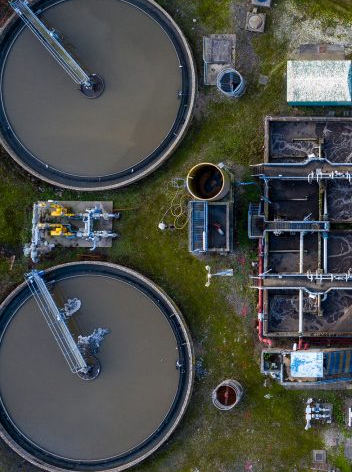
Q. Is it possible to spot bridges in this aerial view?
Yes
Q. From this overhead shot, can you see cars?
No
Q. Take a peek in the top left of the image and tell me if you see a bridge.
Yes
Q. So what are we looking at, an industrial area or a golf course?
industrial area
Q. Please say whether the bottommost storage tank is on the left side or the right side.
left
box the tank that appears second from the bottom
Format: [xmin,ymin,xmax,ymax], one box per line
[188,201,234,257]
